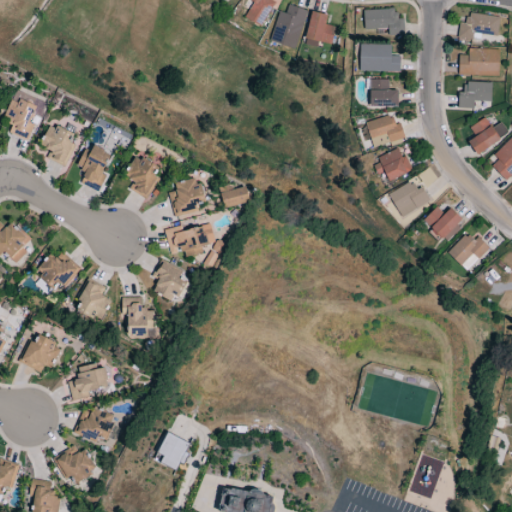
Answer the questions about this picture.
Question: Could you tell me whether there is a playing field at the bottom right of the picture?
Yes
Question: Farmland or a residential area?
residential area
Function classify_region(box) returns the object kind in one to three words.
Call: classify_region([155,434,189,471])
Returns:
shed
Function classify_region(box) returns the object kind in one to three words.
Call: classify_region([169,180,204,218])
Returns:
house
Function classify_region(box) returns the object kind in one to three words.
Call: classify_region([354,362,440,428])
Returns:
sports field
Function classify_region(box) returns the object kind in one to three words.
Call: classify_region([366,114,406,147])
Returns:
house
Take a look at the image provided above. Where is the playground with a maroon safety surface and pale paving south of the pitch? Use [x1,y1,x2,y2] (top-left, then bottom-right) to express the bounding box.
[405,451,455,512]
